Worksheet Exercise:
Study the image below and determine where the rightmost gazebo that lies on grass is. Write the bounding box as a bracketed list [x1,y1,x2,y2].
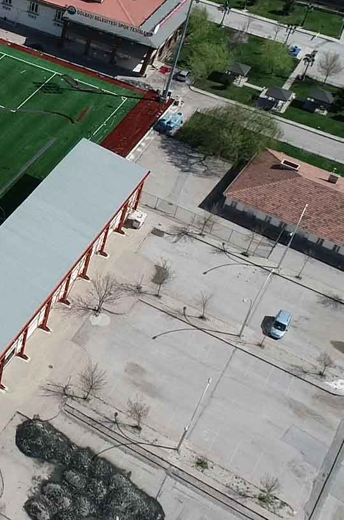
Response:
[304,87,341,117]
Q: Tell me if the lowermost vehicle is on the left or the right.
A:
right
